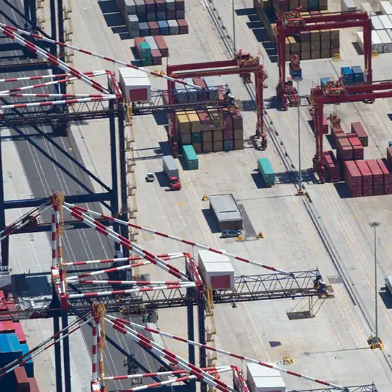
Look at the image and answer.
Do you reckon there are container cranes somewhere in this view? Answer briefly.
Yes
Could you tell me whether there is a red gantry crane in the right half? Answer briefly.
Yes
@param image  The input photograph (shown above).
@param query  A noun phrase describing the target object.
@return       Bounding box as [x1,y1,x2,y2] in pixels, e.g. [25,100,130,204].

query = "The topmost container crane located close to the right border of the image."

[271,3,373,108]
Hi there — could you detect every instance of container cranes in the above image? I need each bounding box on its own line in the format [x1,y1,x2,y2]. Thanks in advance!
[271,3,373,108]
[0,301,378,392]
[163,44,269,156]
[0,0,82,138]
[0,190,334,392]
[0,24,243,298]
[309,72,392,182]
